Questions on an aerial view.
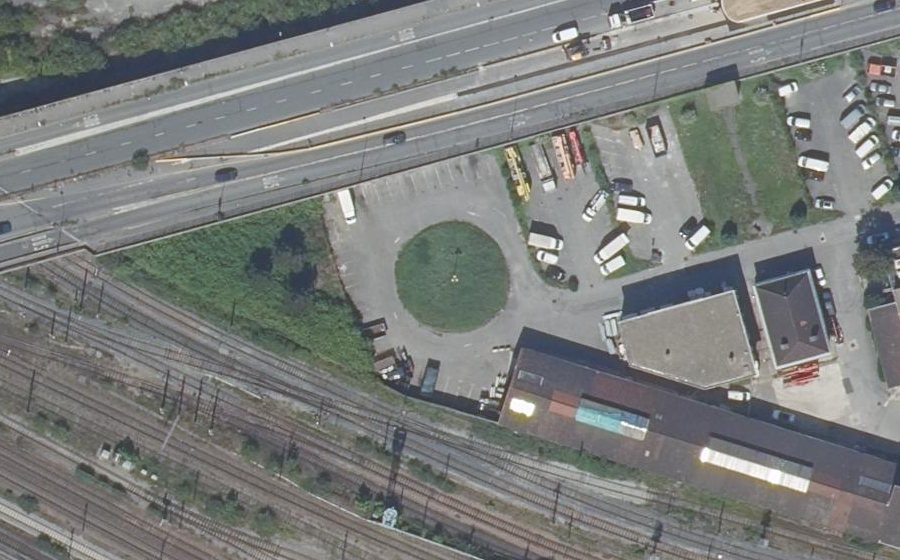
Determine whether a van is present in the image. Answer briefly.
Yes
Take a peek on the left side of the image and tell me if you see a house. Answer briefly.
No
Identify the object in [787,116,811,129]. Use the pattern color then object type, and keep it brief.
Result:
white vehicle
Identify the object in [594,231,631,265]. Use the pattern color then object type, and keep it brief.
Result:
white van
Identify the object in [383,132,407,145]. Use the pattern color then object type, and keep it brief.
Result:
gray vehicle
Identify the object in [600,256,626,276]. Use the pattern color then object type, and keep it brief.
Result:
white vehicle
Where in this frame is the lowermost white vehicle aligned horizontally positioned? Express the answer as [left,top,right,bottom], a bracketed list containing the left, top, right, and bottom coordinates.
[726,389,751,403]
